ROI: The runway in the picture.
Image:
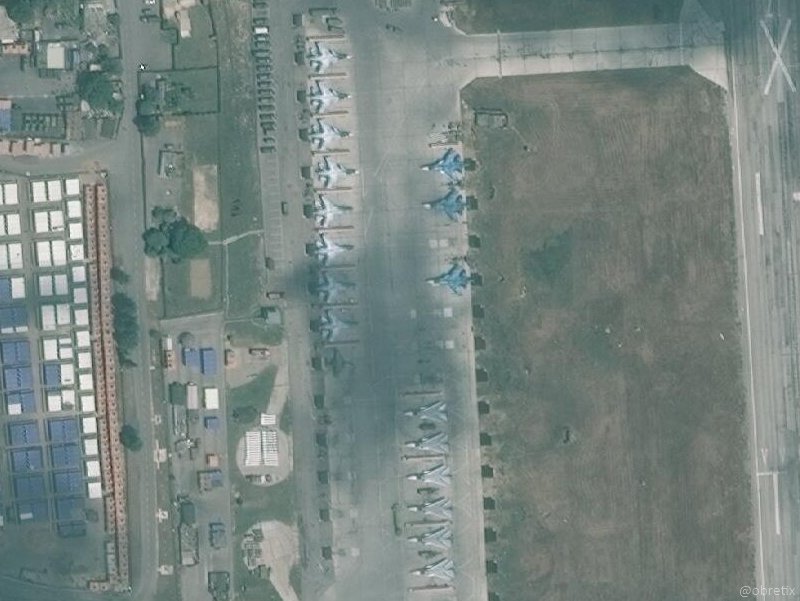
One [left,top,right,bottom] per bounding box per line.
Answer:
[728,0,800,601]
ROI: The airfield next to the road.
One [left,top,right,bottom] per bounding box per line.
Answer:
[253,0,800,601]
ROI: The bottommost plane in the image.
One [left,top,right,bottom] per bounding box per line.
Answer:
[409,561,455,582]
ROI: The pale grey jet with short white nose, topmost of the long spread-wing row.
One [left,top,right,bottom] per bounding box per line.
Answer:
[308,41,350,73]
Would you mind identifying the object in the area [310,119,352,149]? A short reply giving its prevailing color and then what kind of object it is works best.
white airplane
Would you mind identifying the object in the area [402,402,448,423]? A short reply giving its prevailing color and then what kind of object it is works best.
gray airplane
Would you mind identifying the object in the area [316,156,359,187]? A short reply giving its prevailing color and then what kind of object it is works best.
white airplane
